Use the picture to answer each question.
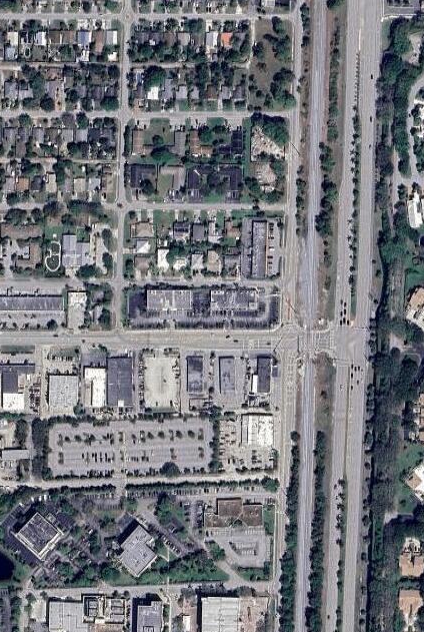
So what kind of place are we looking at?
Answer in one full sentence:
It's a residential area.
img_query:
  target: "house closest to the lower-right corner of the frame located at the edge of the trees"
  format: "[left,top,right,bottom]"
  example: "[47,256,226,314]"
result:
[400,587,423,610]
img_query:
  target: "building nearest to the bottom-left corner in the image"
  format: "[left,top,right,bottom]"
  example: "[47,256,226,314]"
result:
[48,600,87,632]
